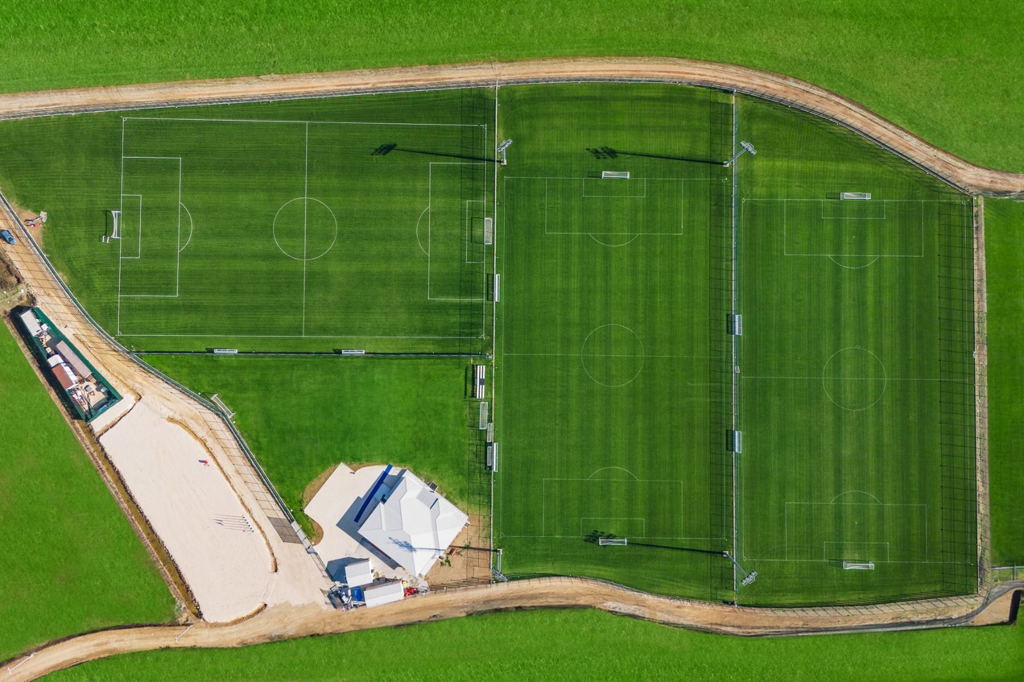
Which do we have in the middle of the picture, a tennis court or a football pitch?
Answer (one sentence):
Looking in the middle of the picture, you will find a football pitch.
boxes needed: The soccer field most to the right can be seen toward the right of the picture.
[734,91,977,606]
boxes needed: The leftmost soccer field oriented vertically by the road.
[492,81,734,605]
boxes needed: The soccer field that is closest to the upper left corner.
[0,86,496,355]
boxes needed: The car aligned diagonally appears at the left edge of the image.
[2,228,17,243]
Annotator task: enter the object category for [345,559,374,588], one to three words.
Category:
shed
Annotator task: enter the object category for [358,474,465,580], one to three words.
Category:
building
